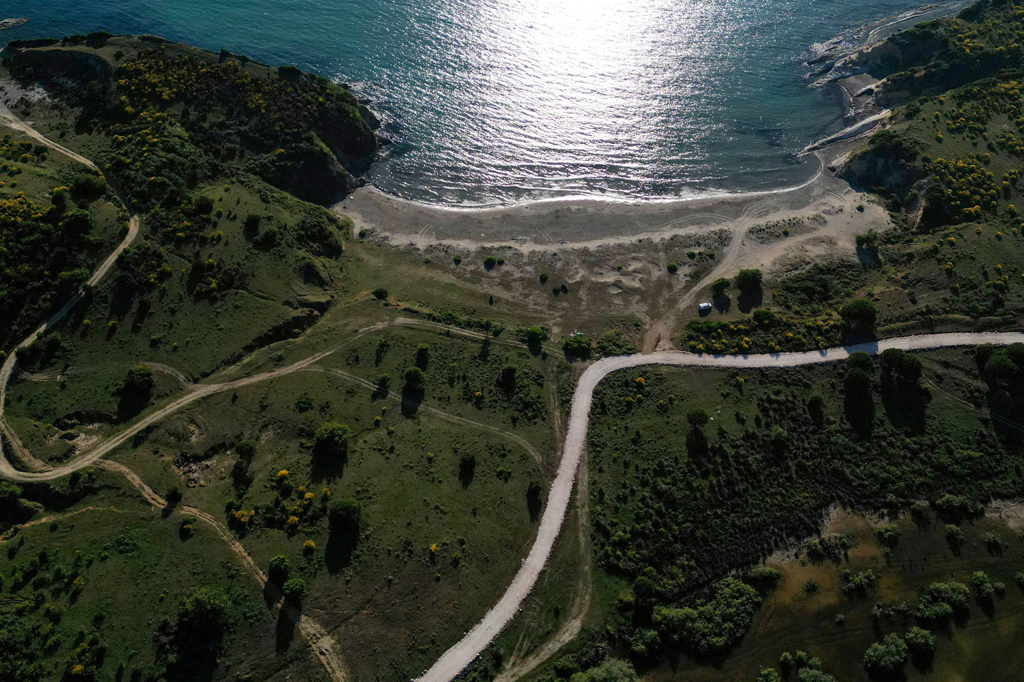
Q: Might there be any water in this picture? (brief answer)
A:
Yes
